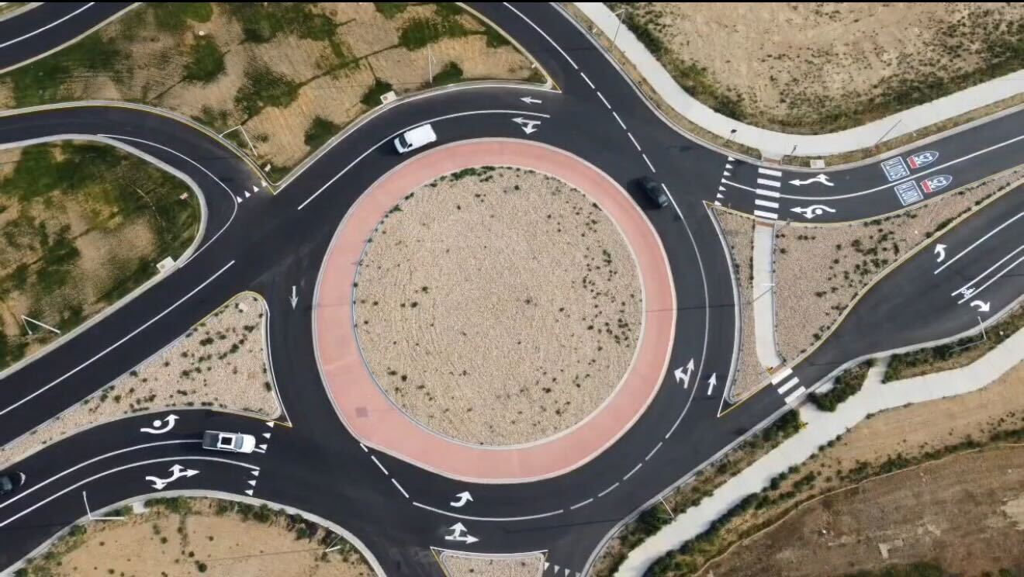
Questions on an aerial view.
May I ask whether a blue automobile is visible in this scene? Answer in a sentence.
No, I find no blue automobile anywhere in the image.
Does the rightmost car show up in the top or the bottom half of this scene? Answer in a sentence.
The top half of the photo is where the rightmost car is.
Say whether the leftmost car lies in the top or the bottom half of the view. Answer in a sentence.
It is in the bottom half that the leftmost car appears.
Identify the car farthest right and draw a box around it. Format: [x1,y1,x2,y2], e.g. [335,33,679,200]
[636,175,670,210]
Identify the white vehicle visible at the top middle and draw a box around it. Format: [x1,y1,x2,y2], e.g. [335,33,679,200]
[396,124,437,155]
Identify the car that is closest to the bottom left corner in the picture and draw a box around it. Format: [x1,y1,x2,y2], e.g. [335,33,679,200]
[0,470,31,502]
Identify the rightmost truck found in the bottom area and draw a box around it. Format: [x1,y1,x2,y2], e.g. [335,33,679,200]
[202,430,259,453]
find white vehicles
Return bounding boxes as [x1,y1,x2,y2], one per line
[202,430,259,453]
[396,124,437,155]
